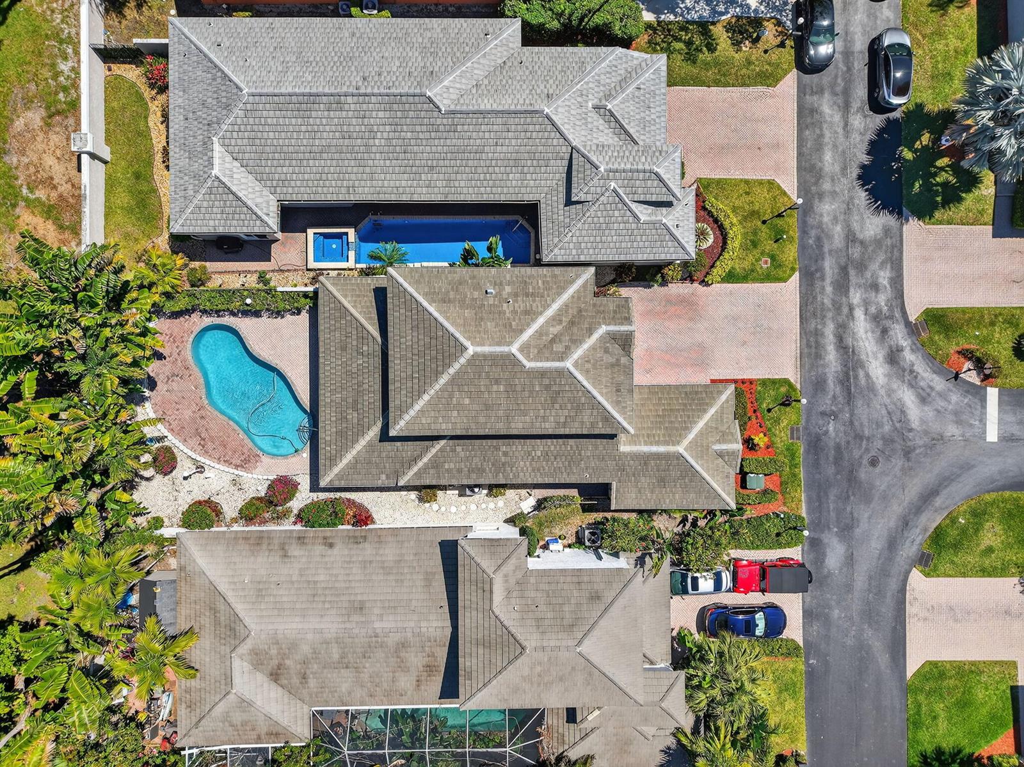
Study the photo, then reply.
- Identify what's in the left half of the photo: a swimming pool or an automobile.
swimming pool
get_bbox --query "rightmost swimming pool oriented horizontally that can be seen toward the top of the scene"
[352,208,537,269]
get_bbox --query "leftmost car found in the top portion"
[801,0,841,74]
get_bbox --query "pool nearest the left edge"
[187,318,317,460]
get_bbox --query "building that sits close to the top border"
[167,14,698,264]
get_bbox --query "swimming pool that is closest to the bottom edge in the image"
[360,709,545,739]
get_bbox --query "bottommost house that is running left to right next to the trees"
[175,515,690,767]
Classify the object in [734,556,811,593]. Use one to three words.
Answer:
car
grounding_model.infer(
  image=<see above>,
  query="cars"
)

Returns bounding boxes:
[801,0,841,74]
[672,563,731,598]
[874,30,915,109]
[706,602,782,639]
[734,556,811,593]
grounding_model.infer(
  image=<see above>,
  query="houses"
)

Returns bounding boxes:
[317,264,743,512]
[167,14,698,264]
[175,515,690,767]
